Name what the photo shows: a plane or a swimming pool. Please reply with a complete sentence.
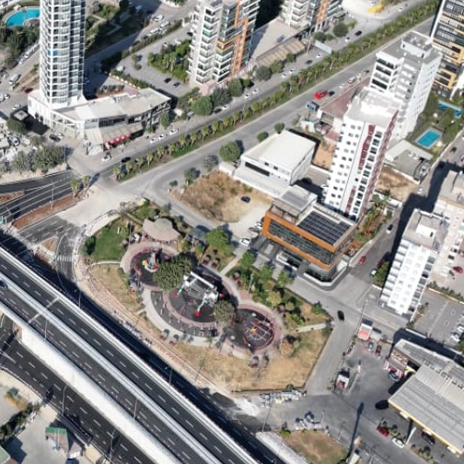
The one in the frame is a swimming pool.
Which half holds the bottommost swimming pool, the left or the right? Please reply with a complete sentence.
The bottommost swimming pool sits on the right side.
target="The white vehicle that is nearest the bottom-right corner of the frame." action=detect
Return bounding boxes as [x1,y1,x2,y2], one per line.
[388,437,406,451]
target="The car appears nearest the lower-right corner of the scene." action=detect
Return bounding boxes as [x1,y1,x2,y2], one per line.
[419,431,436,445]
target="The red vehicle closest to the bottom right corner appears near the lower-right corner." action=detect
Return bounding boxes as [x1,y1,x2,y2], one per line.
[374,425,390,438]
